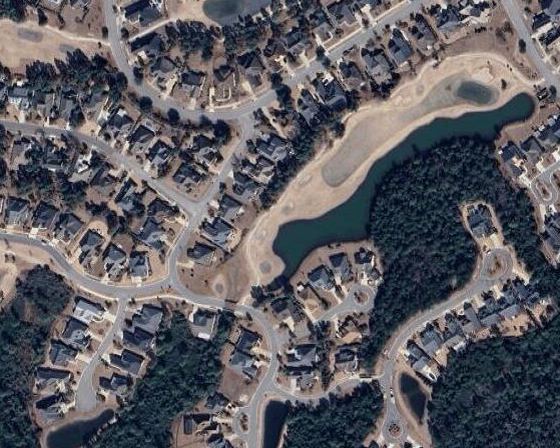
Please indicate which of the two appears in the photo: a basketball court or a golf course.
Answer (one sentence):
I can see a golf course in this picture.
